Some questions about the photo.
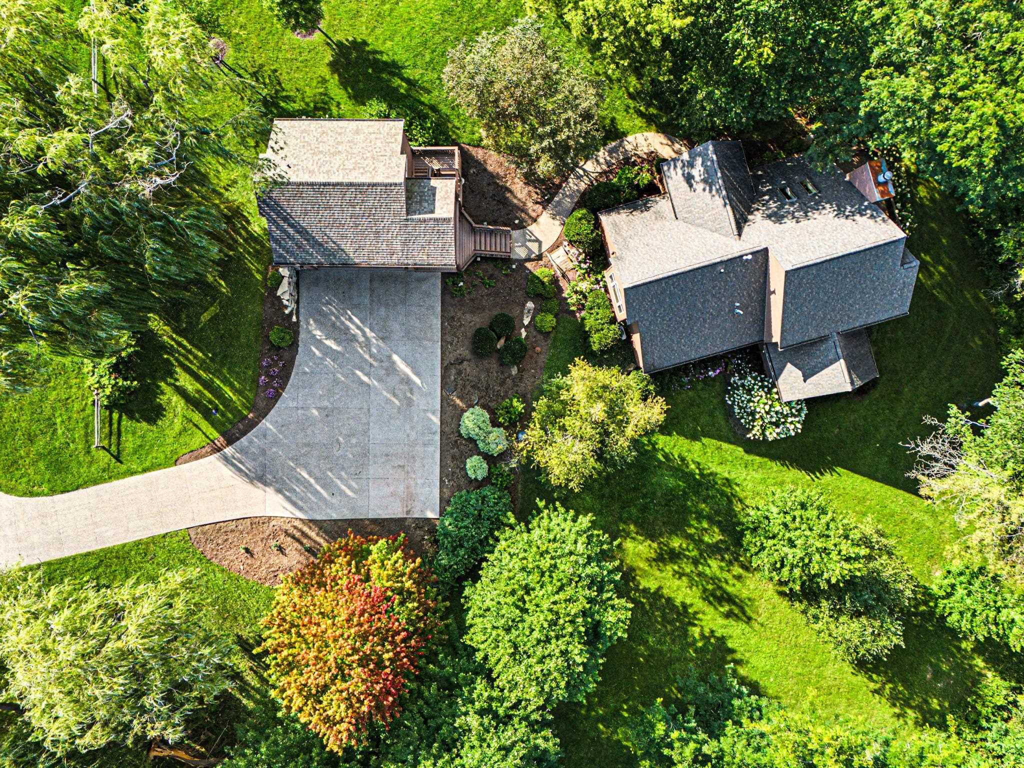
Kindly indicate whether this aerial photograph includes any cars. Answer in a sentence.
No, there is no car in the image.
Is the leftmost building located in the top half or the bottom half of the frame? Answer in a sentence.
The leftmost building sits in the top half of the picture.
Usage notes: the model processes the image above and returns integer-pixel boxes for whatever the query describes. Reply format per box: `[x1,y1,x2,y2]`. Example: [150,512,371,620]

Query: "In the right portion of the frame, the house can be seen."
[595,139,922,404]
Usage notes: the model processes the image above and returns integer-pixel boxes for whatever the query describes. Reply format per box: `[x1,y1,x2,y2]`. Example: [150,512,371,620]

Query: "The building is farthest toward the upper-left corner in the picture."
[254,120,457,275]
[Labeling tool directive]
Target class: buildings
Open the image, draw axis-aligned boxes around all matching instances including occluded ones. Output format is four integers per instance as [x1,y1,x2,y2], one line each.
[254,120,457,275]
[595,139,922,404]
